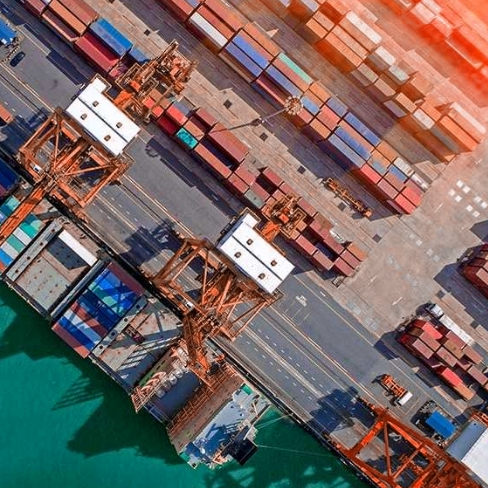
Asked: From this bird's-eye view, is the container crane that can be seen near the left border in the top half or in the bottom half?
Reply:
top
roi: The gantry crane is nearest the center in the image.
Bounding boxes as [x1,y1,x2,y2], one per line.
[141,177,335,390]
